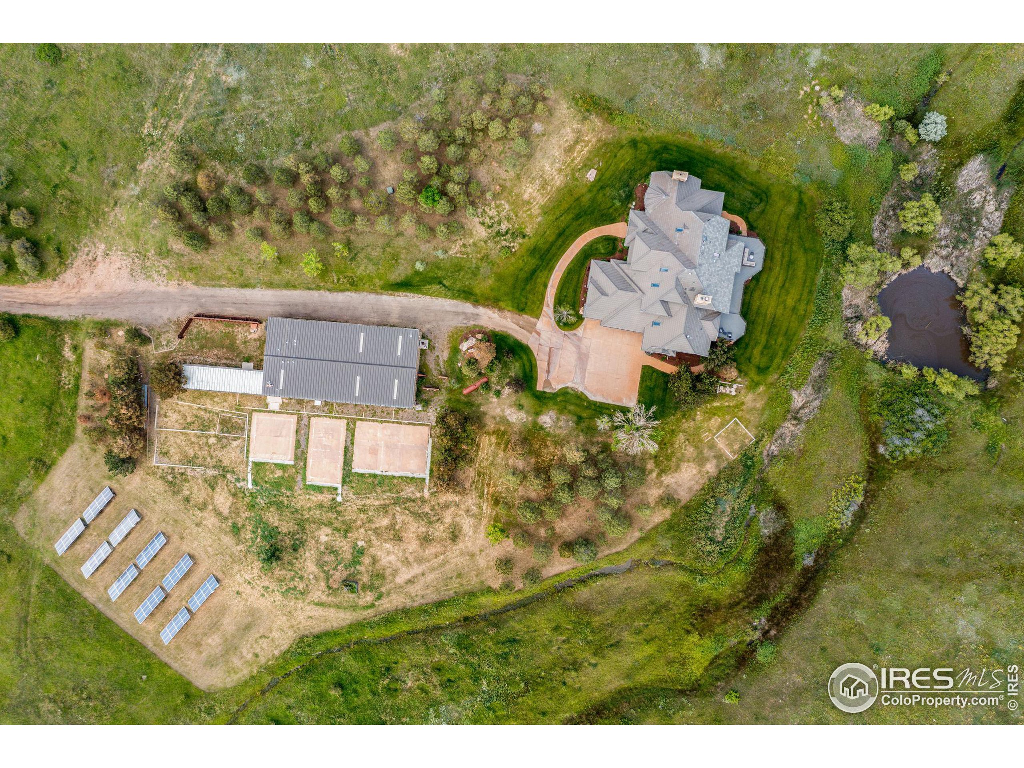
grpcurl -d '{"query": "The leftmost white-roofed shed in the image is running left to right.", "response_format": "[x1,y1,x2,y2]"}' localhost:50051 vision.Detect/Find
[181,364,263,395]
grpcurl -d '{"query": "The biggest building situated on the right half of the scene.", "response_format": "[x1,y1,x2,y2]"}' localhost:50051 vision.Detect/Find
[583,171,768,356]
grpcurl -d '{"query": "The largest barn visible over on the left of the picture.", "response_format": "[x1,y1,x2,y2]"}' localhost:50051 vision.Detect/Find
[261,317,420,408]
